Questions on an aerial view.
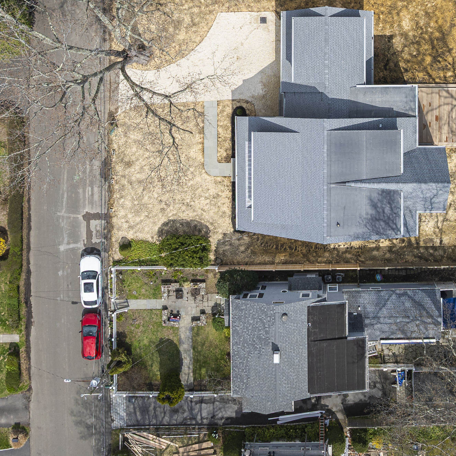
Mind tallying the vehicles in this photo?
2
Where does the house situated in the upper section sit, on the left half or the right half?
right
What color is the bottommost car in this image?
red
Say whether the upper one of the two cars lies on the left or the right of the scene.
left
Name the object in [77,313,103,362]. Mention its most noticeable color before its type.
red car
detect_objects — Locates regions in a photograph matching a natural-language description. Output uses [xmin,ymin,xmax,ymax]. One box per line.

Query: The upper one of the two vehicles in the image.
[76,252,102,305]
